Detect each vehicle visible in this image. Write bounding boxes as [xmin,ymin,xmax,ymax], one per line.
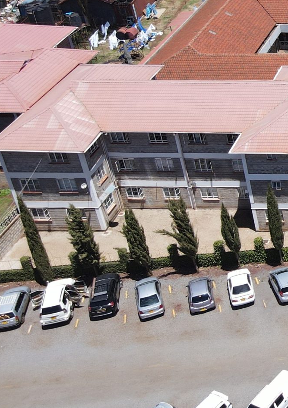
[131,271,166,322]
[184,272,215,314]
[87,269,129,319]
[0,281,39,327]
[268,264,288,303]
[36,273,91,326]
[243,368,288,408]
[224,264,255,308]
[187,386,235,408]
